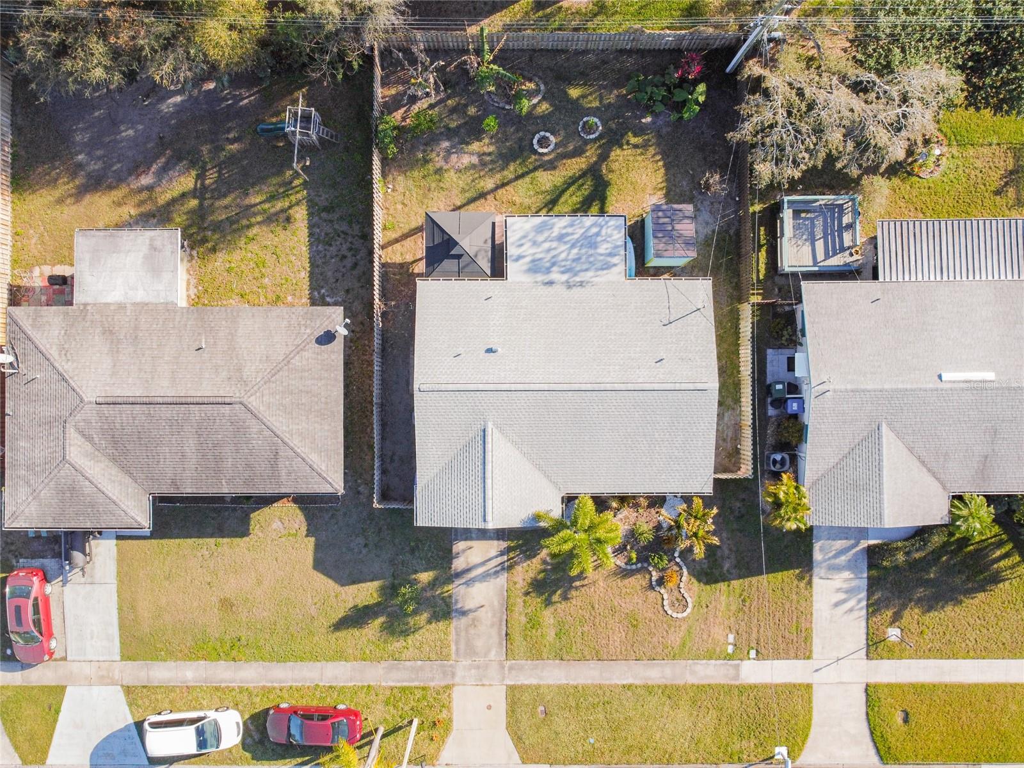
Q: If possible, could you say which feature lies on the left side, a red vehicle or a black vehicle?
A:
red vehicle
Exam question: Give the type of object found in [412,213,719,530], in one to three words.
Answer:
house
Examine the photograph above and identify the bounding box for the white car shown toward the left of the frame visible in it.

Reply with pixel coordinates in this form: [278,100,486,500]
[142,706,243,760]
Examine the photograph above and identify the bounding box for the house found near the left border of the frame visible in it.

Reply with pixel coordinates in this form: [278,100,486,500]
[4,228,347,532]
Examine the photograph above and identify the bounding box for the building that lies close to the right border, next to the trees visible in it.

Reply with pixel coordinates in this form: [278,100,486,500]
[793,218,1024,526]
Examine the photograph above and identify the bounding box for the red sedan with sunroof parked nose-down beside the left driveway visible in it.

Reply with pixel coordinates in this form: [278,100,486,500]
[6,570,61,662]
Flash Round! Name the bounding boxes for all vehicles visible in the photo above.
[269,703,361,753]
[142,706,243,760]
[6,570,61,662]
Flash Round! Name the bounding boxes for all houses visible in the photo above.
[412,213,719,530]
[4,228,347,532]
[793,218,1024,526]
